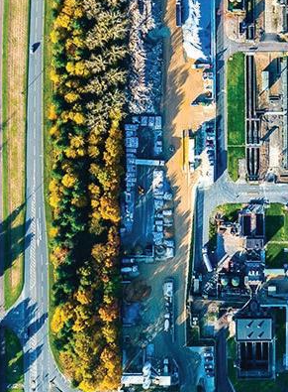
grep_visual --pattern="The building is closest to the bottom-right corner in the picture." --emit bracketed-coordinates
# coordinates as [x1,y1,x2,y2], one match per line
[237,316,273,340]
